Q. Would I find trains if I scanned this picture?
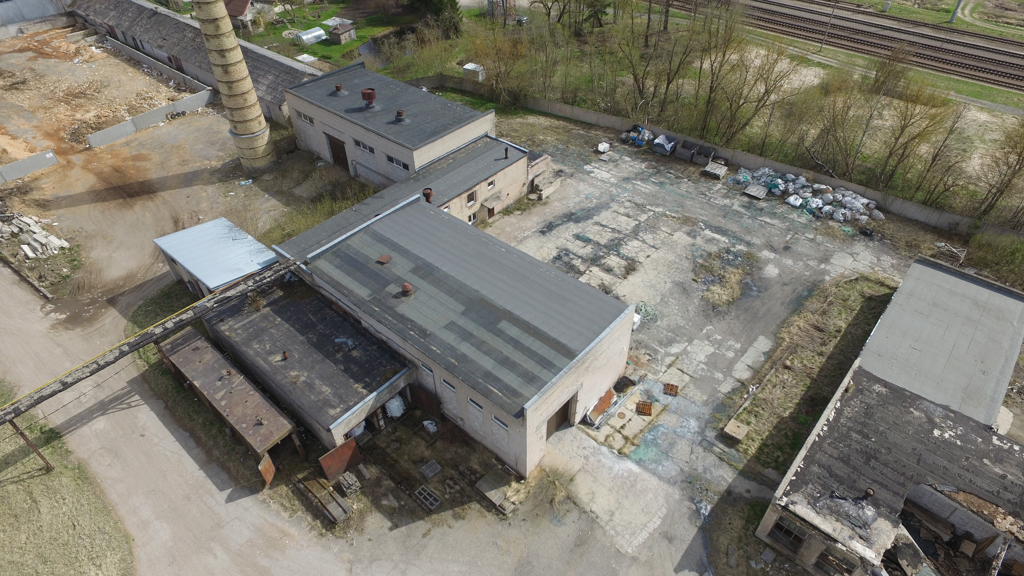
No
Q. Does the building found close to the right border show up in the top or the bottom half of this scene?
bottom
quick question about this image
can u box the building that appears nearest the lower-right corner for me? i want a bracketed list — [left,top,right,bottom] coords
[754,252,1024,576]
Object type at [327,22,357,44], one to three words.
shed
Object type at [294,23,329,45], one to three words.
greenhouse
